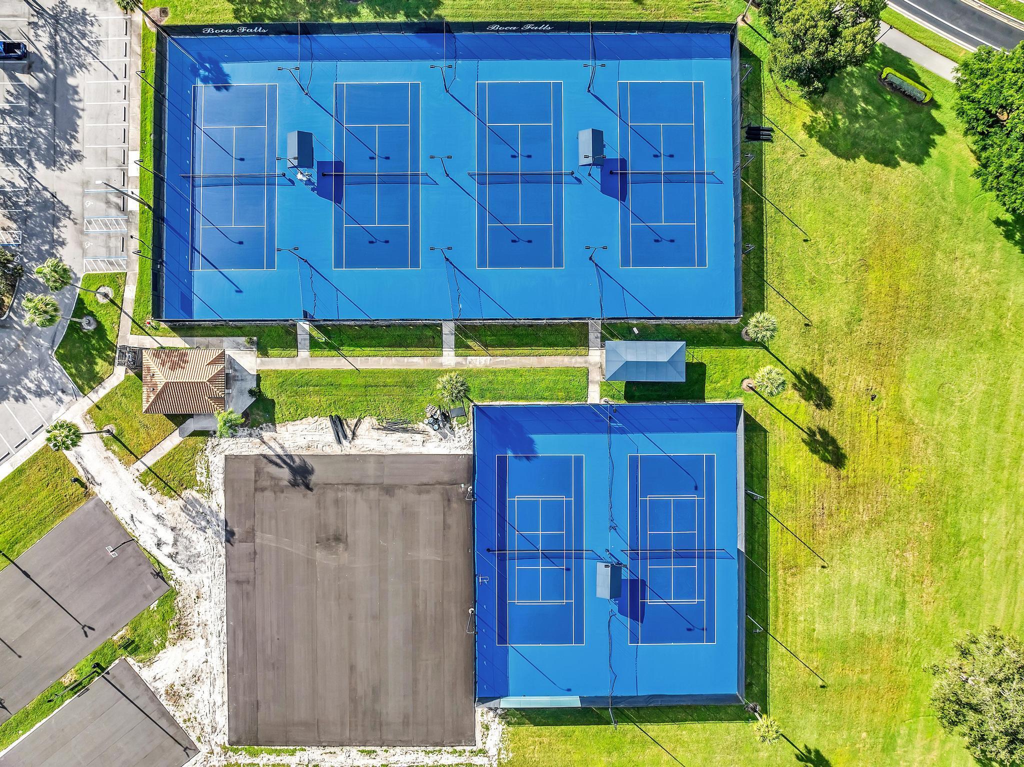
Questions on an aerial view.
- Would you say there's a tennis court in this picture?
Yes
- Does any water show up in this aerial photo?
No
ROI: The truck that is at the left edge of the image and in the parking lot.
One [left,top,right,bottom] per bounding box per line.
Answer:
[0,40,28,61]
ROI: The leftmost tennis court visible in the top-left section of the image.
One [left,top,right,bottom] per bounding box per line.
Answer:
[177,84,283,270]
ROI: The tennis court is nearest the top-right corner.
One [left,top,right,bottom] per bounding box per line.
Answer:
[613,81,715,268]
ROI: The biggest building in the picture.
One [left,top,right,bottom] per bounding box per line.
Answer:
[142,349,235,414]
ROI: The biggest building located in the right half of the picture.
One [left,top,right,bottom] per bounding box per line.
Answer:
[605,341,686,382]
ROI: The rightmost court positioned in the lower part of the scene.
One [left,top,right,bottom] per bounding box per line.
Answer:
[623,454,726,645]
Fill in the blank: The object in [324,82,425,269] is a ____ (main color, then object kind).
blue tennis court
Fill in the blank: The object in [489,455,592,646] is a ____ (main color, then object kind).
blue tennis court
